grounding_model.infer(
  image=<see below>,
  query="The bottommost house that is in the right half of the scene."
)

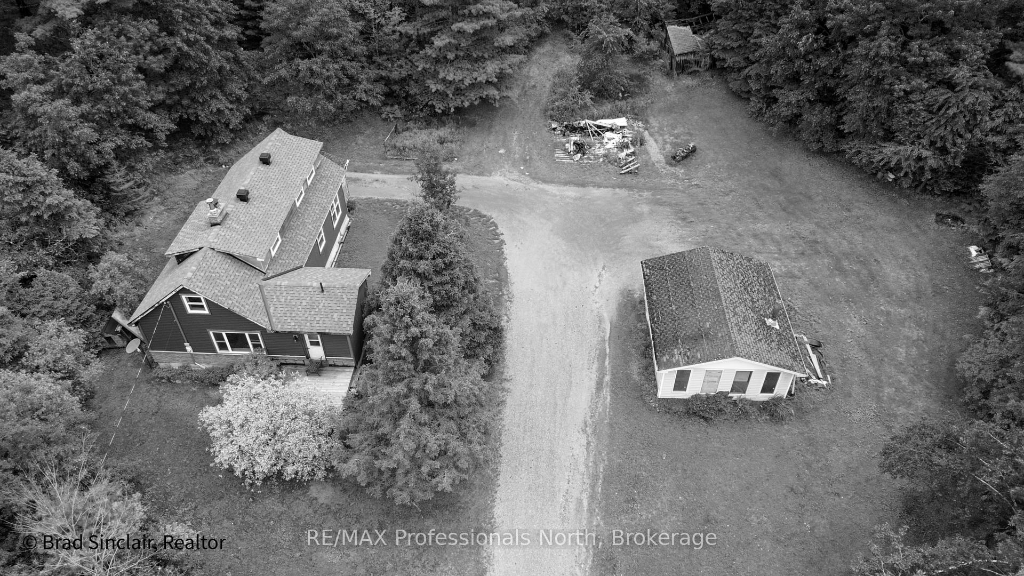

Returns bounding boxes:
[640,246,808,401]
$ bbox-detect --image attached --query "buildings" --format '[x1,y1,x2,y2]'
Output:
[640,246,808,401]
[130,127,373,368]
[666,12,719,76]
